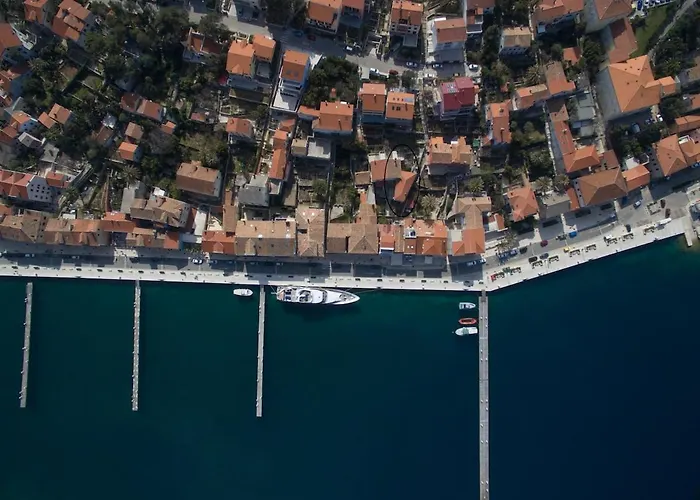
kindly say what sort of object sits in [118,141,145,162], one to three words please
house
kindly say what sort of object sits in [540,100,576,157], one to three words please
house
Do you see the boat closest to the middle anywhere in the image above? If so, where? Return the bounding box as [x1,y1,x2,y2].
[268,285,379,305]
